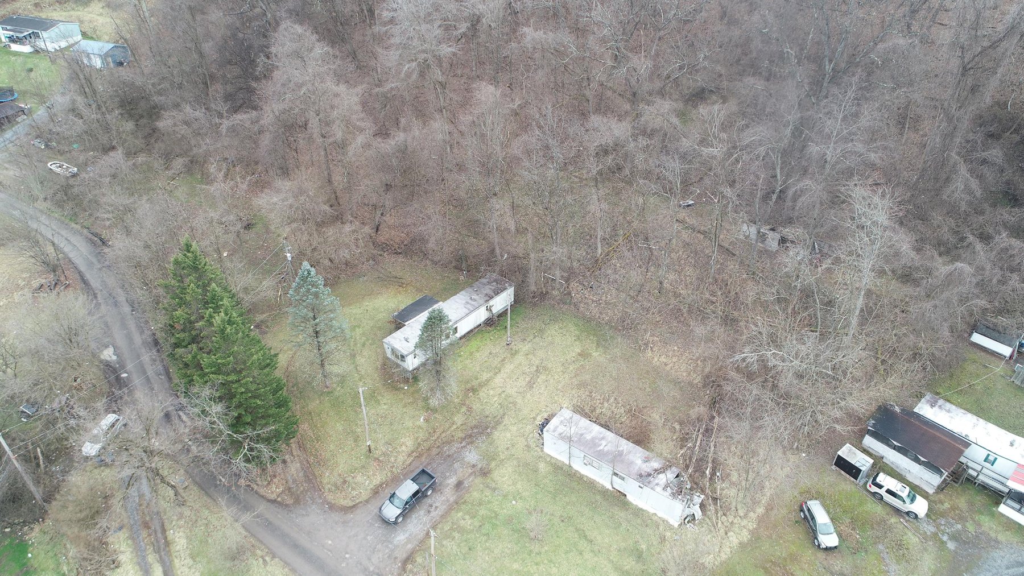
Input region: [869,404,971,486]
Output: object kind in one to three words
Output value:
shed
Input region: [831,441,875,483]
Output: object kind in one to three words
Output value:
shed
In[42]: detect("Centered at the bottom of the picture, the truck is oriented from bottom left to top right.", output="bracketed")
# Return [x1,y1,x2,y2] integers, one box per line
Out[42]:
[379,470,437,522]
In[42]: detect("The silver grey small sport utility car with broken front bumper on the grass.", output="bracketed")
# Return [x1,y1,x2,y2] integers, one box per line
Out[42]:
[801,499,840,548]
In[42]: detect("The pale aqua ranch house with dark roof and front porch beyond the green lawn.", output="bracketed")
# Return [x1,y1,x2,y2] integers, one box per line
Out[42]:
[2,4,89,51]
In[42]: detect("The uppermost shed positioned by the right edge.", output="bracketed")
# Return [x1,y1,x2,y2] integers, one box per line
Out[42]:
[971,319,1024,358]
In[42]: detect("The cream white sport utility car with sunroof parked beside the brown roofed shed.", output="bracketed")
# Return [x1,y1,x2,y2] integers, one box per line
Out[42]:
[869,477,929,520]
